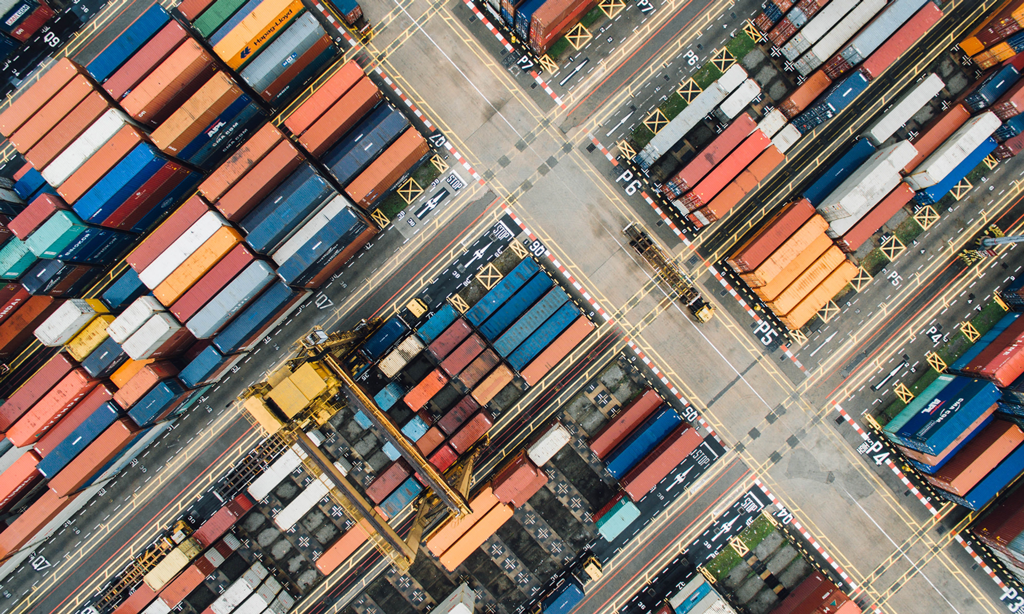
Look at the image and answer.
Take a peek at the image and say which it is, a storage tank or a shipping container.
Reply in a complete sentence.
Looking from above, you can make out a shipping container.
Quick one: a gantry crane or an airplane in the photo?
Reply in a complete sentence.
Of the two, only a gantry crane appears.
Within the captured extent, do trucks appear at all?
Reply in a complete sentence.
Yes, I can see a truck in this picture.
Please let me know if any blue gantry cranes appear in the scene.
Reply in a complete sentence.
No, there isn't any blue gantry crane down there.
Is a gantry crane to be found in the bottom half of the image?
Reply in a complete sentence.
Yes, there is a gantry crane in the bottom half of the image.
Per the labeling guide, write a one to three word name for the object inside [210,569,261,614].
shipping container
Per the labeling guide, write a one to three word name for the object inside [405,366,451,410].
shipping container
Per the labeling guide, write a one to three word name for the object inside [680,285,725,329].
truck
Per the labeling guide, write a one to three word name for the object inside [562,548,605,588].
truck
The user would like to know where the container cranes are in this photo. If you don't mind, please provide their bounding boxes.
[233,307,485,580]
